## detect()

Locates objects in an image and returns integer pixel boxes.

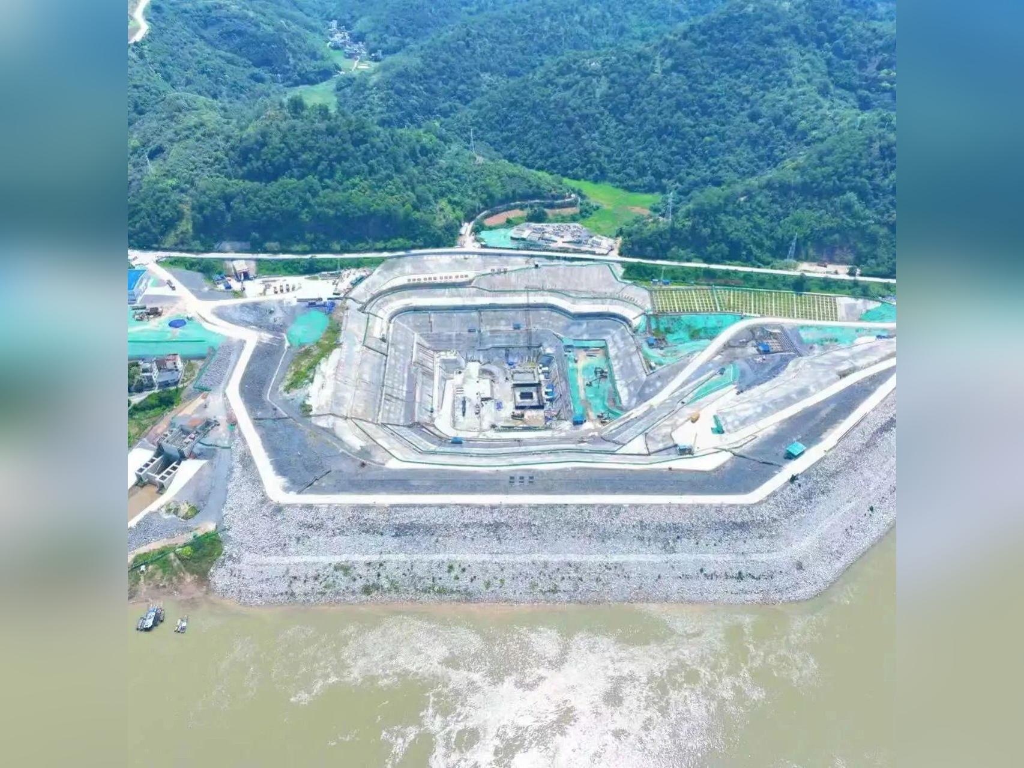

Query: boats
[174,616,189,632]
[138,605,166,631]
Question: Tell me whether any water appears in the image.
Yes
